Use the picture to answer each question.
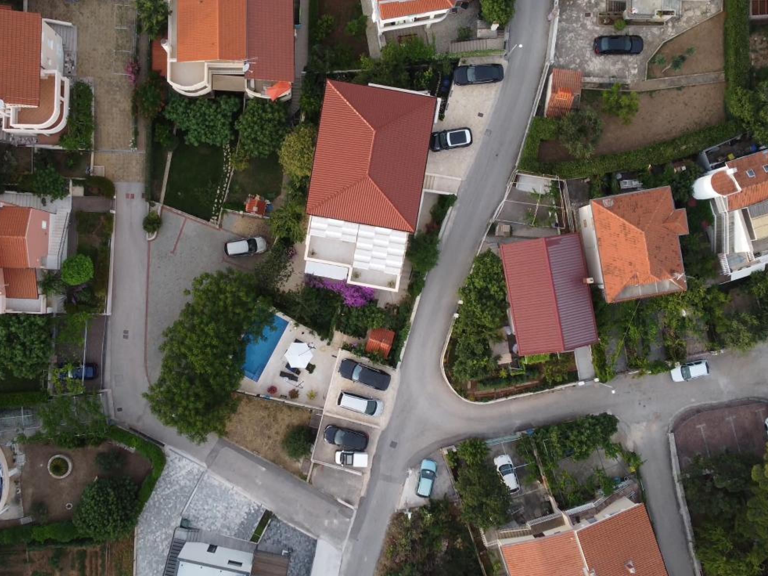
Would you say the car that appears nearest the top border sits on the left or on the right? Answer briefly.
right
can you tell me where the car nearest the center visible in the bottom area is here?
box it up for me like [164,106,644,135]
[336,356,393,391]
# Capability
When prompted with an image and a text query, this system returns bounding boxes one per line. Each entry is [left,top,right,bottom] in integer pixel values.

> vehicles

[336,356,393,391]
[335,450,368,469]
[495,450,520,496]
[590,31,644,57]
[335,389,385,418]
[666,357,711,383]
[428,126,477,154]
[322,423,371,450]
[415,457,438,499]
[222,233,271,258]
[450,62,504,88]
